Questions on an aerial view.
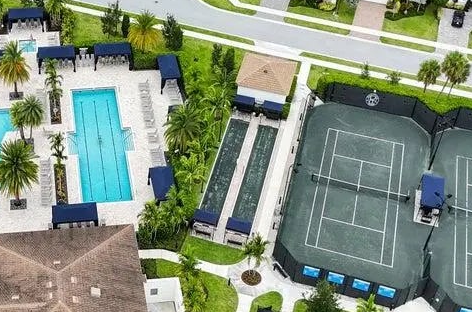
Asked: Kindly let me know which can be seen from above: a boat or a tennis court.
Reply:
tennis court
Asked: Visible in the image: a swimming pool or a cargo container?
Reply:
swimming pool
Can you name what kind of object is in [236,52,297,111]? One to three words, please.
building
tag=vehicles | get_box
[453,3,468,26]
